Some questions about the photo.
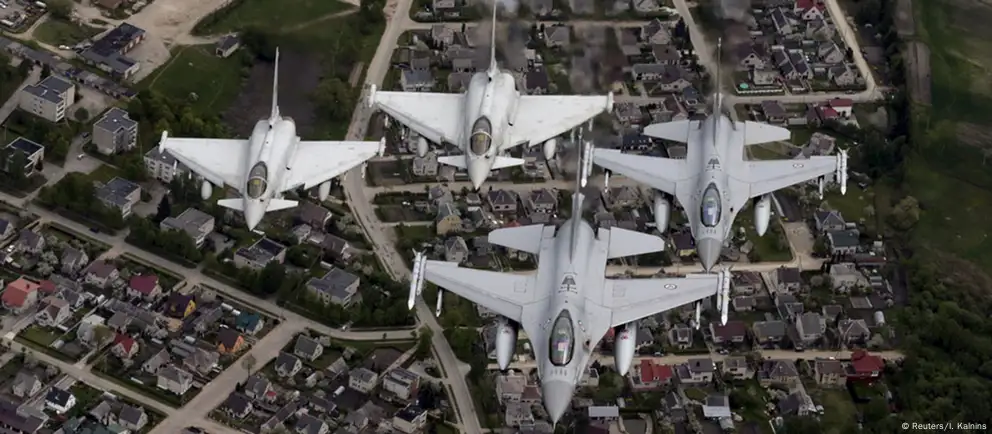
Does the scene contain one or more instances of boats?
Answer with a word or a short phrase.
No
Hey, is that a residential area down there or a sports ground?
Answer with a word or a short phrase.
residential area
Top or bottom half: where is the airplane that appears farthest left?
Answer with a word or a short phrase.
top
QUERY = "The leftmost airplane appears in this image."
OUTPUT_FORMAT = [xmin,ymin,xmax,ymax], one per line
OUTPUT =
[156,50,387,232]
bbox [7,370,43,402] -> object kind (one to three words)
house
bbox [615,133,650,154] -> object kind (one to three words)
shed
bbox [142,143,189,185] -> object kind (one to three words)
building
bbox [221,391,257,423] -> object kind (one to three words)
house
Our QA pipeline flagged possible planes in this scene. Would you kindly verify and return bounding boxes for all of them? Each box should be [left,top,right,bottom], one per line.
[580,36,850,275]
[156,50,387,232]
[407,126,732,433]
[368,0,615,192]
